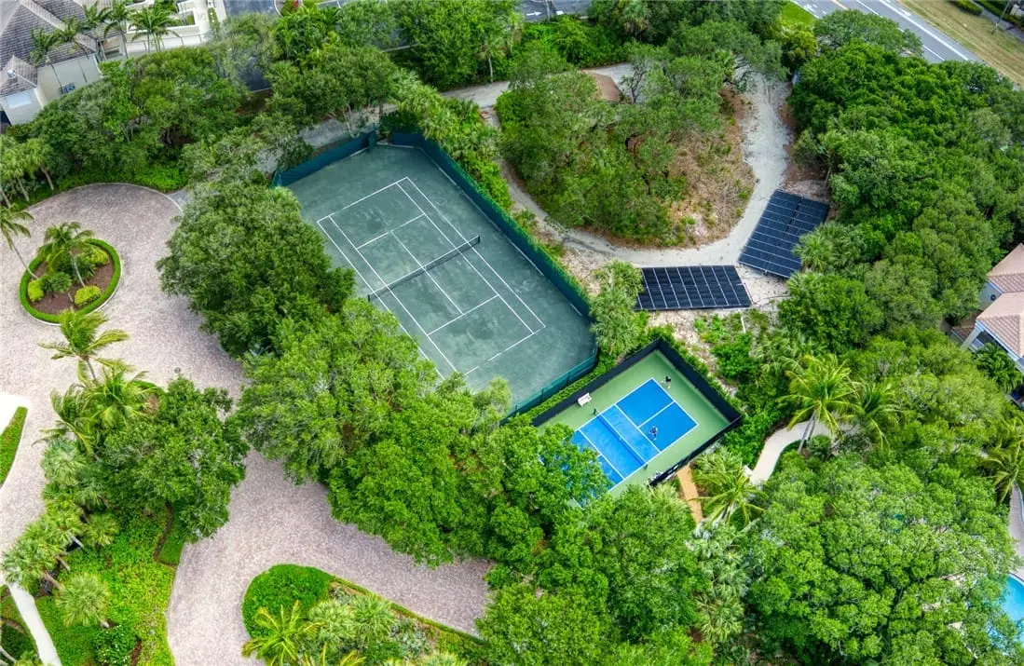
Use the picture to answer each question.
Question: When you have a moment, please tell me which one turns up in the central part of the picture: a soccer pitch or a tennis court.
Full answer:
The feature located in the central part of the picture is a tennis court.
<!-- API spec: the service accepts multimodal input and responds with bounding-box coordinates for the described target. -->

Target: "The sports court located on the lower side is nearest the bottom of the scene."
[445,351,731,553]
